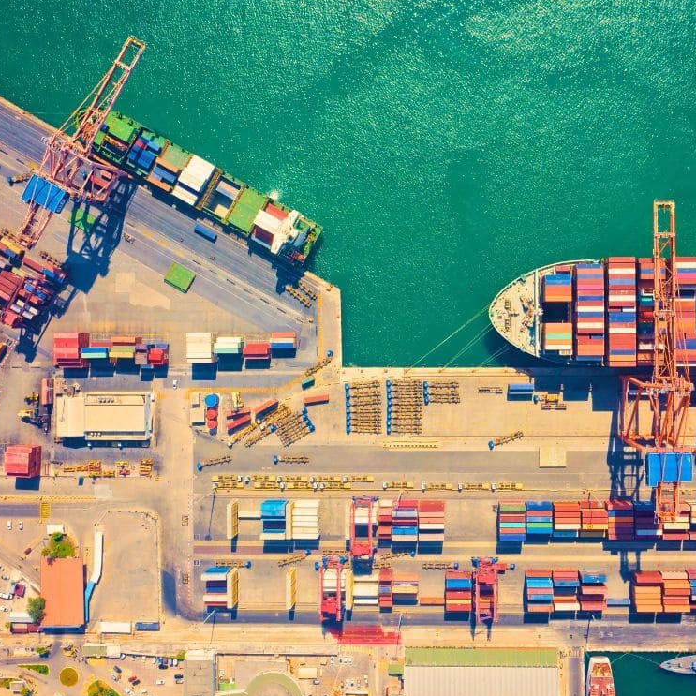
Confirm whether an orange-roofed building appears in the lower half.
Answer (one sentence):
Yes, an orange-roofed building is visible in the lower half.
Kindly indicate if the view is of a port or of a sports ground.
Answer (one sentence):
This image shows a port.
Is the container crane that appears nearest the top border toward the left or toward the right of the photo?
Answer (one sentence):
It is on the left.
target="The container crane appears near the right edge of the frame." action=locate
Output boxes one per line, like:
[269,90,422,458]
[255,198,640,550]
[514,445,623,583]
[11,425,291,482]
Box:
[610,198,696,524]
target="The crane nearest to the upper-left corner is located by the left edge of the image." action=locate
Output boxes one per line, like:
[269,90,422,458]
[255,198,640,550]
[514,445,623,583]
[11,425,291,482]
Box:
[13,36,151,248]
